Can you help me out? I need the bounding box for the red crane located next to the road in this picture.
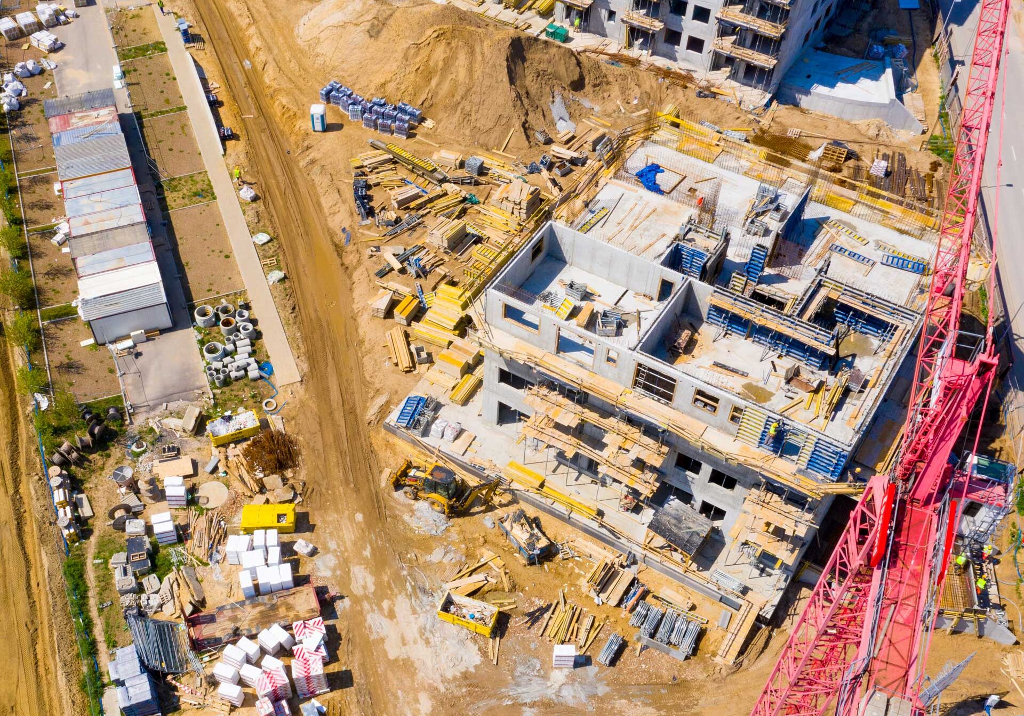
[749,0,1024,716]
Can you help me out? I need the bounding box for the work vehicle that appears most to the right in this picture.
[380,450,495,530]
